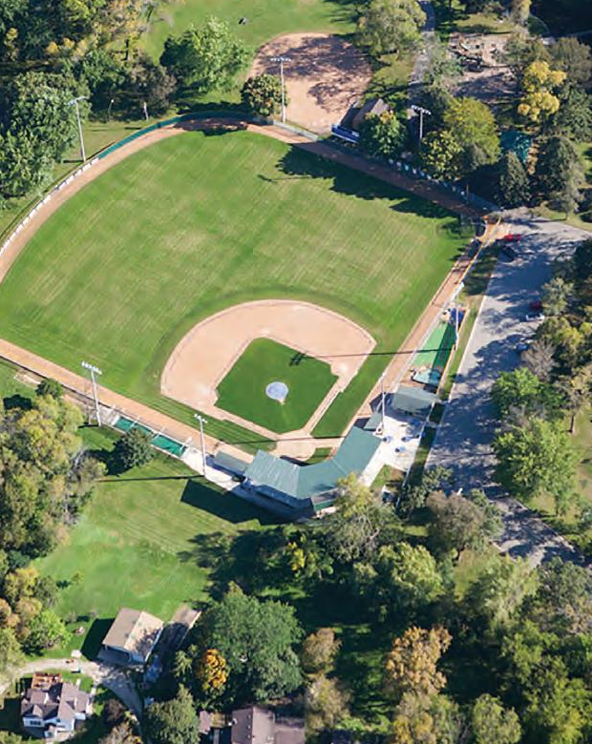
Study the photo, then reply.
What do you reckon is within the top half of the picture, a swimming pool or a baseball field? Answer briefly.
baseball field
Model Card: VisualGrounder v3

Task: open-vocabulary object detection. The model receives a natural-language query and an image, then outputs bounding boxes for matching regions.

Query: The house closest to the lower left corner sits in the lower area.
[20,681,93,744]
